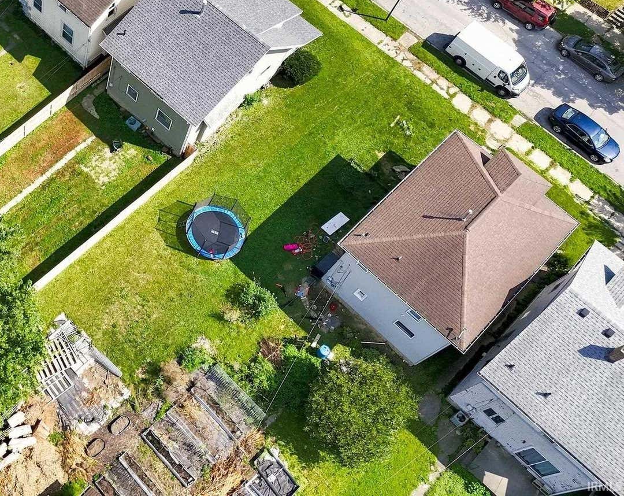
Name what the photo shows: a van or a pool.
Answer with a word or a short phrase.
van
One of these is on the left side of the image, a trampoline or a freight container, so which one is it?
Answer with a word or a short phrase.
trampoline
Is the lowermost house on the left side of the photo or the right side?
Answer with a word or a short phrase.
right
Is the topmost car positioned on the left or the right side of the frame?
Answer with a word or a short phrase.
right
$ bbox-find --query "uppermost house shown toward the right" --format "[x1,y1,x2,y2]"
[322,127,580,365]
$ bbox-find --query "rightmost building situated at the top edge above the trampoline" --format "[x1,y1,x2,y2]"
[99,0,320,154]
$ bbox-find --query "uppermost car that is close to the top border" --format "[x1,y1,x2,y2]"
[493,0,558,32]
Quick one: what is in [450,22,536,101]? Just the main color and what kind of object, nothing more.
white van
